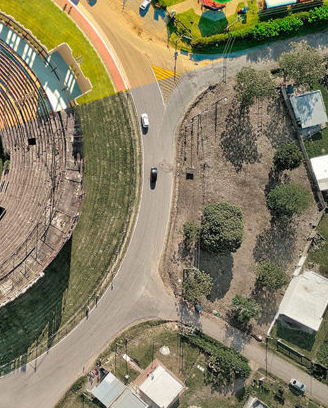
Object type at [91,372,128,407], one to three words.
house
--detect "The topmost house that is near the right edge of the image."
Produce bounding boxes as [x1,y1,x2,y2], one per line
[286,90,328,129]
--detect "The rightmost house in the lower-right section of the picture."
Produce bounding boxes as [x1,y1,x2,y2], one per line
[275,271,328,333]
